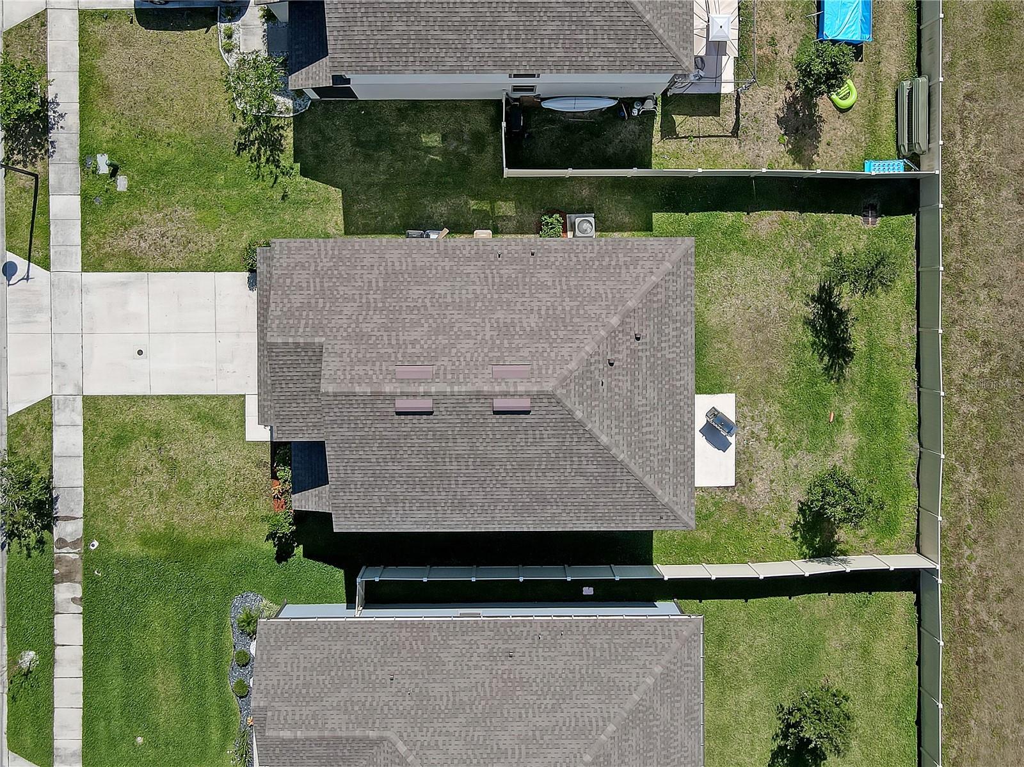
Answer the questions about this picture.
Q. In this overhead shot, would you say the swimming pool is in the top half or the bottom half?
top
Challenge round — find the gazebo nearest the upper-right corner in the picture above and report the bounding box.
[664,0,756,97]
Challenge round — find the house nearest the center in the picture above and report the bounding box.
[257,235,697,533]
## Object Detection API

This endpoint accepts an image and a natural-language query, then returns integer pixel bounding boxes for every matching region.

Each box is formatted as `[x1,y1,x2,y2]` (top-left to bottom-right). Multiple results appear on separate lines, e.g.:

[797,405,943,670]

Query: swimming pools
[803,0,872,51]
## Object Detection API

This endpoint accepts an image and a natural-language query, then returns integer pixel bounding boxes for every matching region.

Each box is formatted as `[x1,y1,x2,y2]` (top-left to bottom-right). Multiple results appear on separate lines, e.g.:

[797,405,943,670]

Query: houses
[251,599,708,767]
[255,0,694,101]
[257,235,697,533]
